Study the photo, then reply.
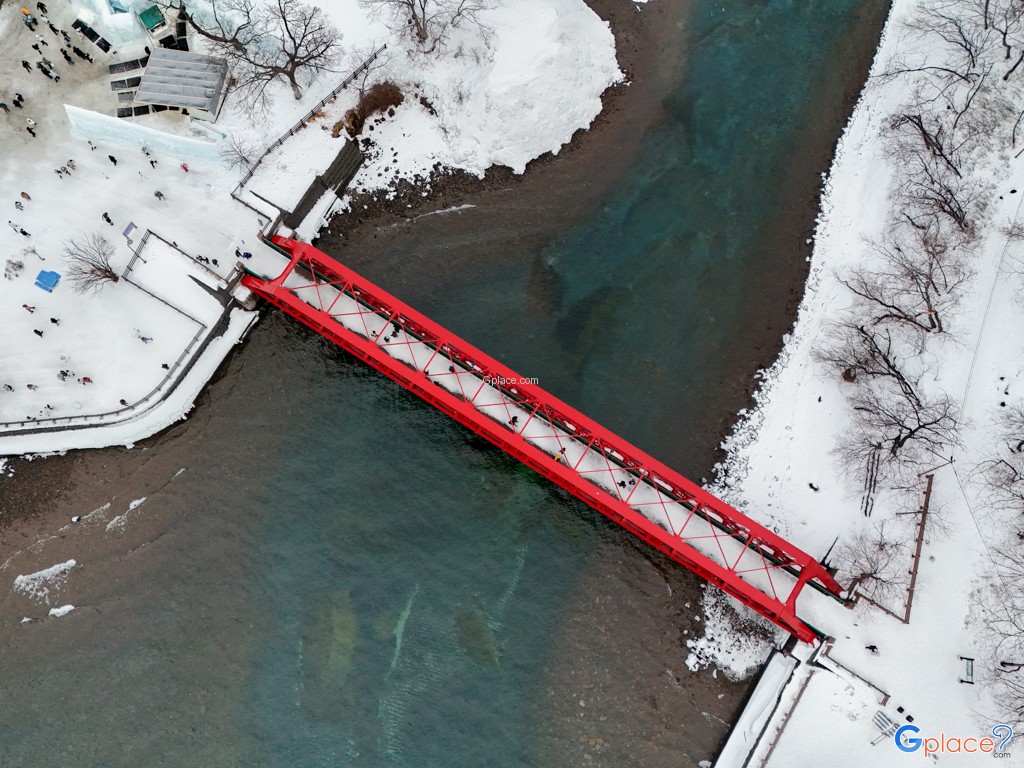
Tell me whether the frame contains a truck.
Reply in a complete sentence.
No, no truck can be seen from above.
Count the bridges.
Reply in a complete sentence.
The count comes to 1 bridge.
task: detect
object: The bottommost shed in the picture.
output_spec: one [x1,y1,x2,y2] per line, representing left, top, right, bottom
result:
[134,47,231,129]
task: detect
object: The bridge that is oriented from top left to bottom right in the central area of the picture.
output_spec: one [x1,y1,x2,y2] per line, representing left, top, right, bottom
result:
[238,231,847,649]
